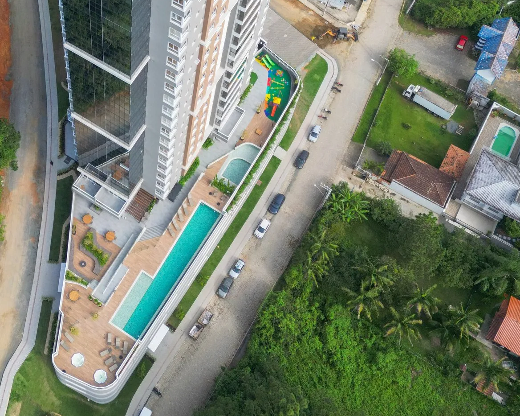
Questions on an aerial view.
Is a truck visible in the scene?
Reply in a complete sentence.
Yes, there's a truck down there.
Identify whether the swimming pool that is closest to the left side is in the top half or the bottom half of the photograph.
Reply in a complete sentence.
You can find the swimming pool that is closest to the left side in the bottom half.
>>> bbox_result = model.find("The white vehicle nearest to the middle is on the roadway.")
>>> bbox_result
[254,216,272,240]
